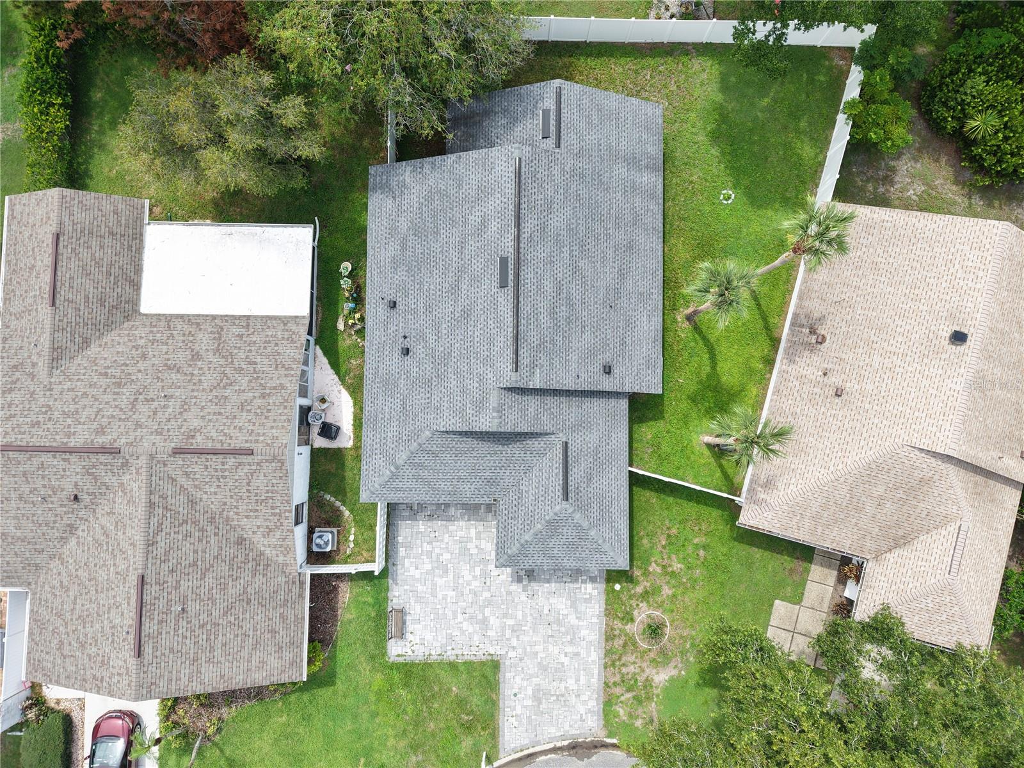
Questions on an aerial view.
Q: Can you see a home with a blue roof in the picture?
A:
No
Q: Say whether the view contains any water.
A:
No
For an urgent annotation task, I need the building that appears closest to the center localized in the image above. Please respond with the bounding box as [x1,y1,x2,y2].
[360,79,663,570]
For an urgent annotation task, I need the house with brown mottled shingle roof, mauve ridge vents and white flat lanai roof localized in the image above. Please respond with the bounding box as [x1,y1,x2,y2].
[0,187,321,703]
